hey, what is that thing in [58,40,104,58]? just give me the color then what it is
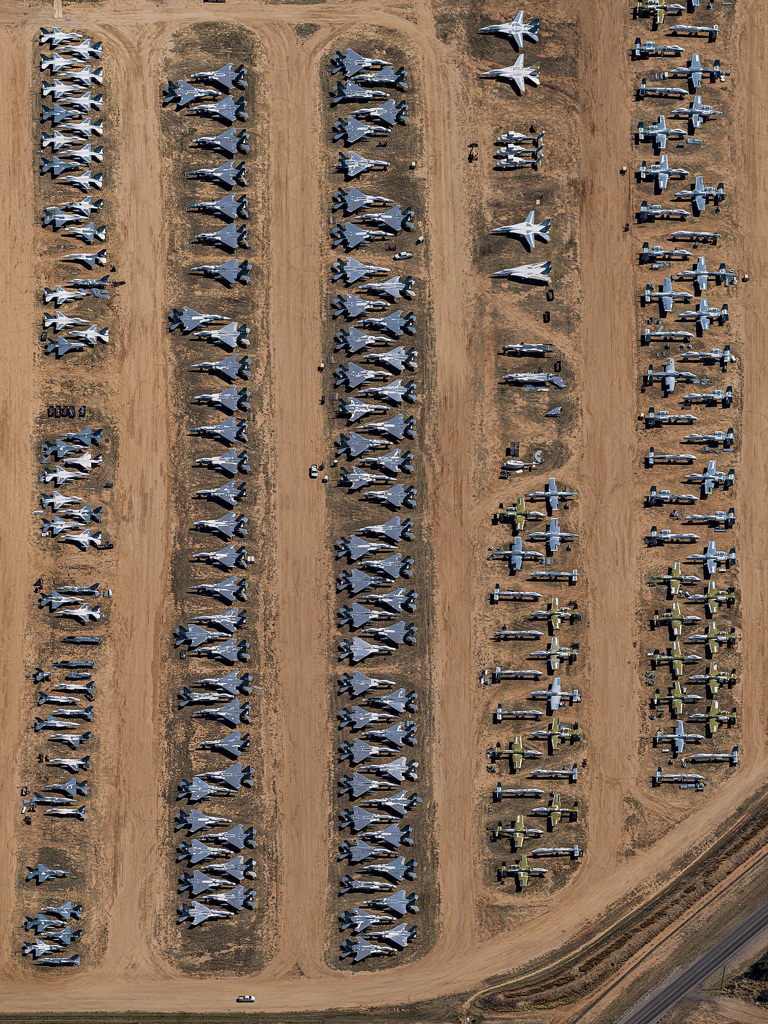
white airplane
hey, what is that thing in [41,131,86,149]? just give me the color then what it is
white airplane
